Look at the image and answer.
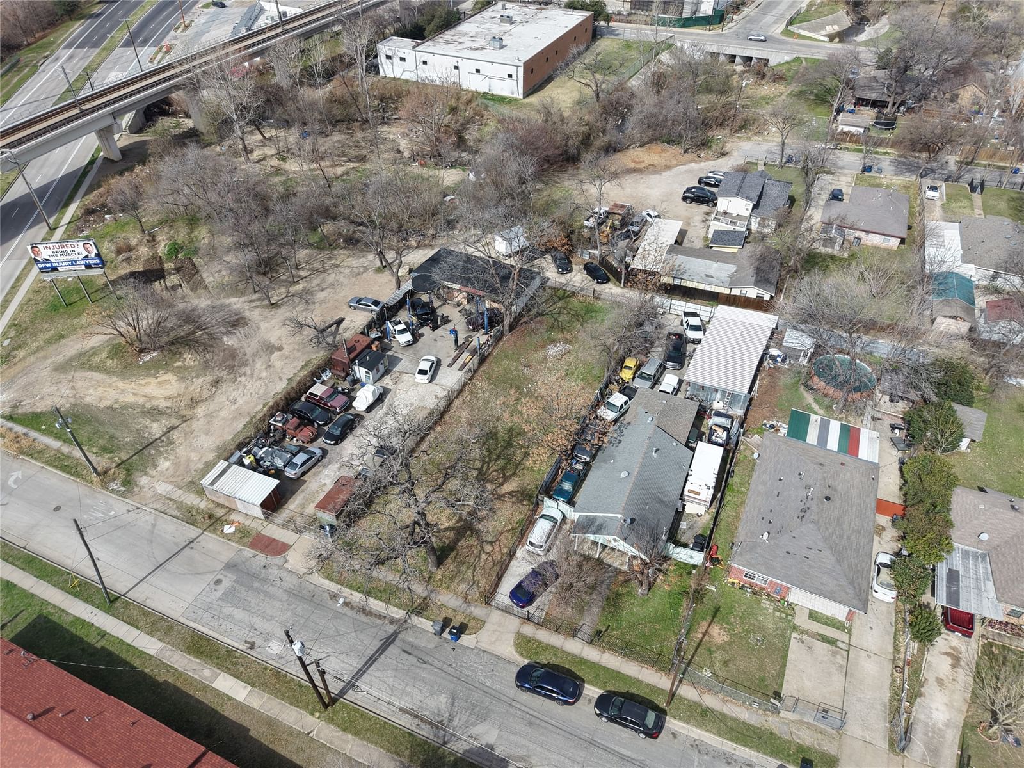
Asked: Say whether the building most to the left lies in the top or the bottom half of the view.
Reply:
bottom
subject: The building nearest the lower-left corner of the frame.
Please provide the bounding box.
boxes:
[0,633,238,768]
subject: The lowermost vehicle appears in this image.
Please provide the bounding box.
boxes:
[594,696,666,739]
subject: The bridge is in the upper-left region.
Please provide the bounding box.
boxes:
[0,0,433,175]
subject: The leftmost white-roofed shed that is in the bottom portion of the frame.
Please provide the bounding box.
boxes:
[198,457,282,519]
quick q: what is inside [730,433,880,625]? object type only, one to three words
house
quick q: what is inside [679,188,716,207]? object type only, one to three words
vehicle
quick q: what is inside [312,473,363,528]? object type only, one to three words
shed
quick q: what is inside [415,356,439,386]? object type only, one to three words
car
